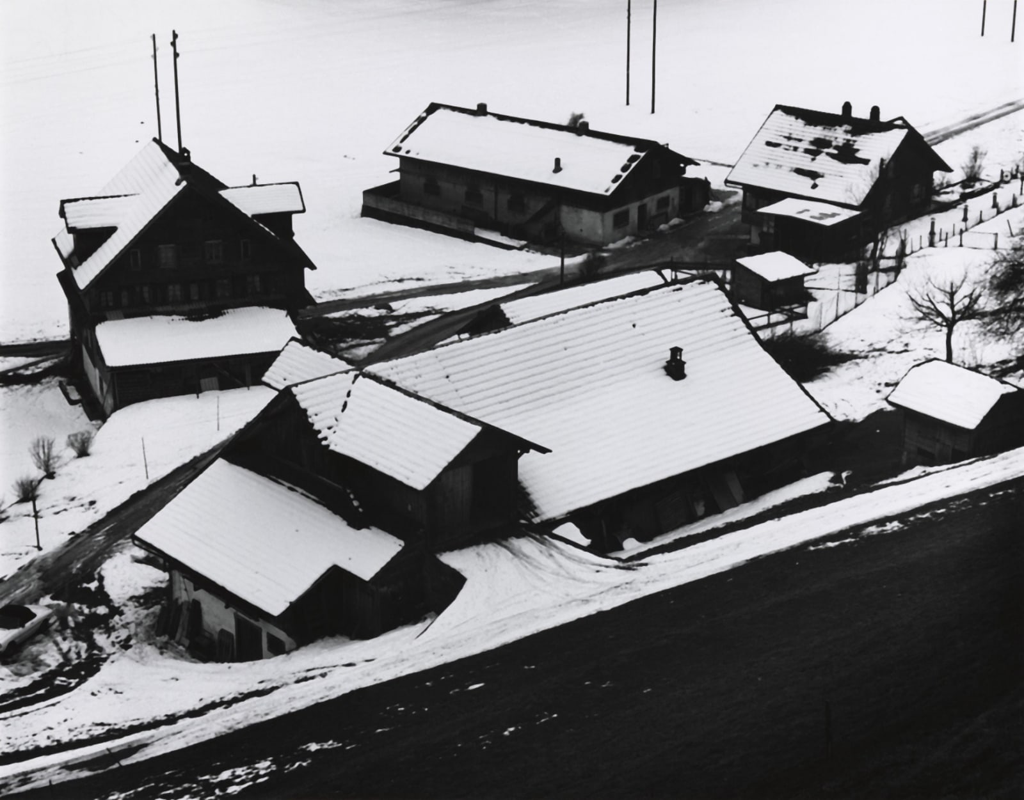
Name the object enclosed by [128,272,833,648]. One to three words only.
barn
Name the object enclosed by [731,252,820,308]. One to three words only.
shed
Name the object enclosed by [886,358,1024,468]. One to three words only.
shed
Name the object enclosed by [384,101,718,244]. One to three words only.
building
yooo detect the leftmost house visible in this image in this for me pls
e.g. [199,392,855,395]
[52,138,320,420]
